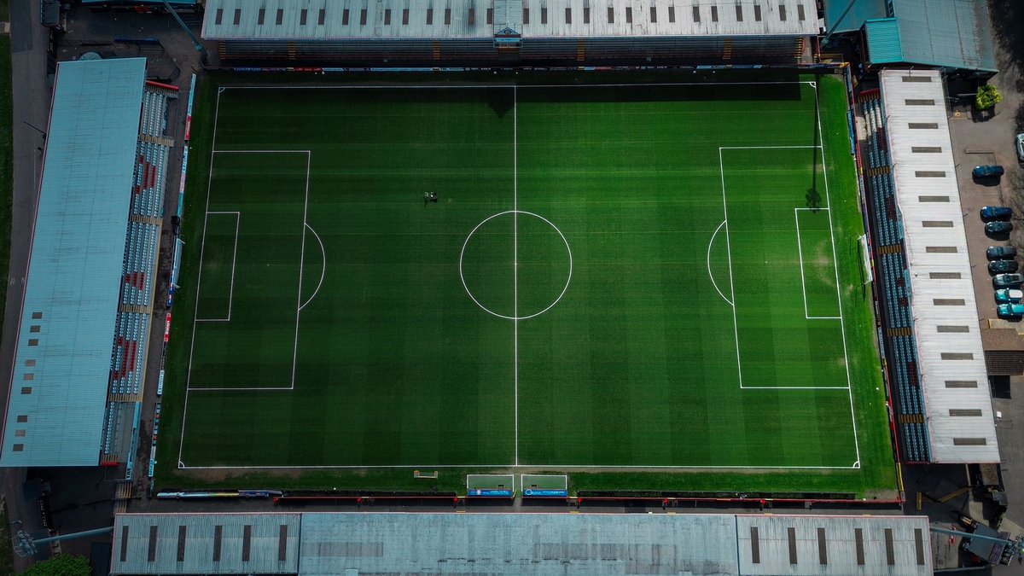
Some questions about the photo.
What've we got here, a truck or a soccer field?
soccer field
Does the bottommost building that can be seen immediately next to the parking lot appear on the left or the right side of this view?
right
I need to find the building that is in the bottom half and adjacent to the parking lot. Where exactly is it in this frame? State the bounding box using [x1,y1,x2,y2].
[980,326,1024,376]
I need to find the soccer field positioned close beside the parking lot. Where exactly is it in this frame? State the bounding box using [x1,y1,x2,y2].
[154,66,899,499]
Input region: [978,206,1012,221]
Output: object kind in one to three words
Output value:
car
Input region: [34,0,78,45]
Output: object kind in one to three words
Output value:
shed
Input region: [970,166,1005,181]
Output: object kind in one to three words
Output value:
car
